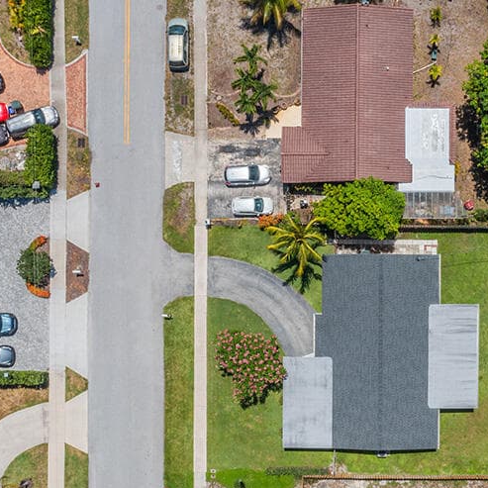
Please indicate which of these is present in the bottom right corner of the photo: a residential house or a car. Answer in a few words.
residential house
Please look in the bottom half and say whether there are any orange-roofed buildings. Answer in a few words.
No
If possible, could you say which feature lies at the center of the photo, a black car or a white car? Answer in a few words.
white car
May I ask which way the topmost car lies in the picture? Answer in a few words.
from top to bottom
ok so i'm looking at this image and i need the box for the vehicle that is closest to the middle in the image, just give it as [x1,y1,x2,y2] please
[231,193,275,217]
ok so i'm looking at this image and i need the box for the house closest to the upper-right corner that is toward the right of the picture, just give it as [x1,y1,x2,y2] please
[280,1,467,222]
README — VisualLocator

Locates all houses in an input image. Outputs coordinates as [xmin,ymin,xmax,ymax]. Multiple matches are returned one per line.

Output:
[282,253,480,458]
[280,1,467,222]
